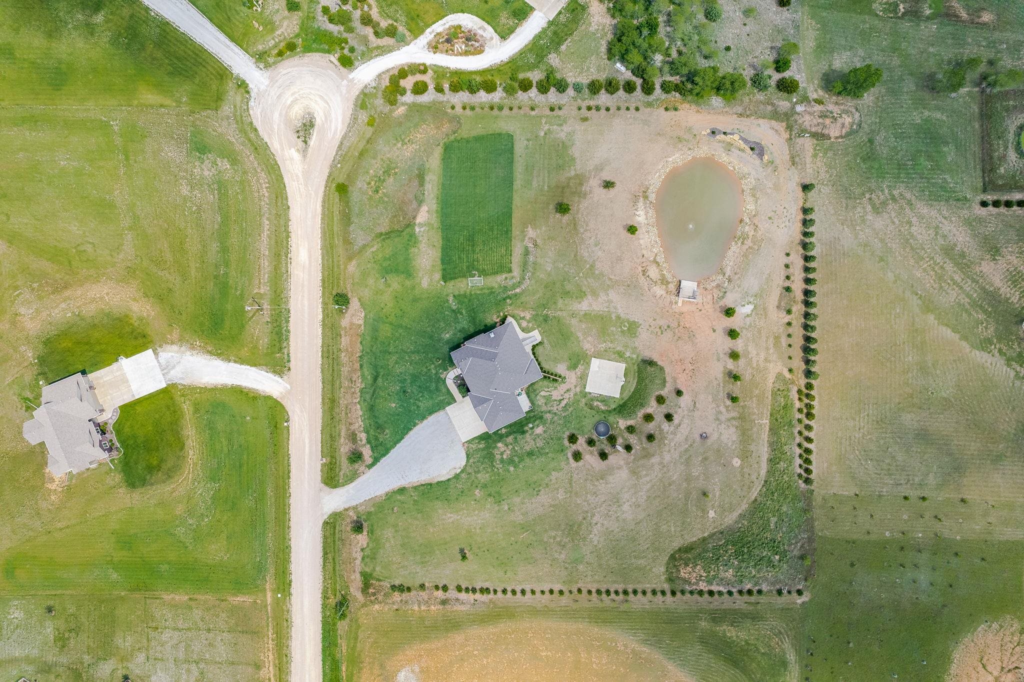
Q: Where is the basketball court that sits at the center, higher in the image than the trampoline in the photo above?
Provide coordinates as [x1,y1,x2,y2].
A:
[586,358,626,397]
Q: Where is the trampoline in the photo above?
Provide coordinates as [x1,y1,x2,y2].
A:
[594,421,612,439]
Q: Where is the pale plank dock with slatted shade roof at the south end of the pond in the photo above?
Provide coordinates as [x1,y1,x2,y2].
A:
[678,280,701,301]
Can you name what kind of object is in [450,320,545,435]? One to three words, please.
house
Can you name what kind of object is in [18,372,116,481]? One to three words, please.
house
